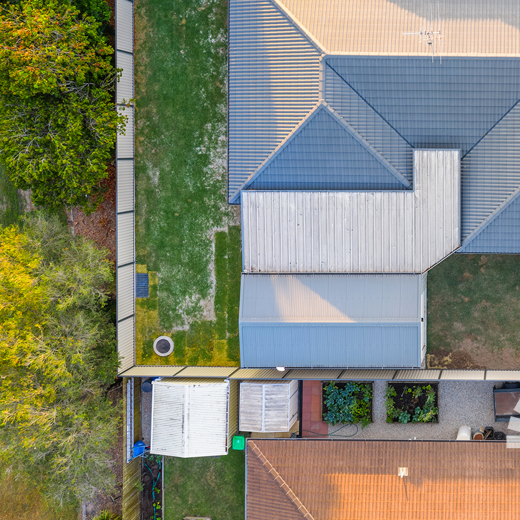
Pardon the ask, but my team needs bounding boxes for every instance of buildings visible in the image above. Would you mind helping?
[242,438,520,520]
[235,273,429,373]
[239,379,299,433]
[226,0,520,257]
[151,378,238,457]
